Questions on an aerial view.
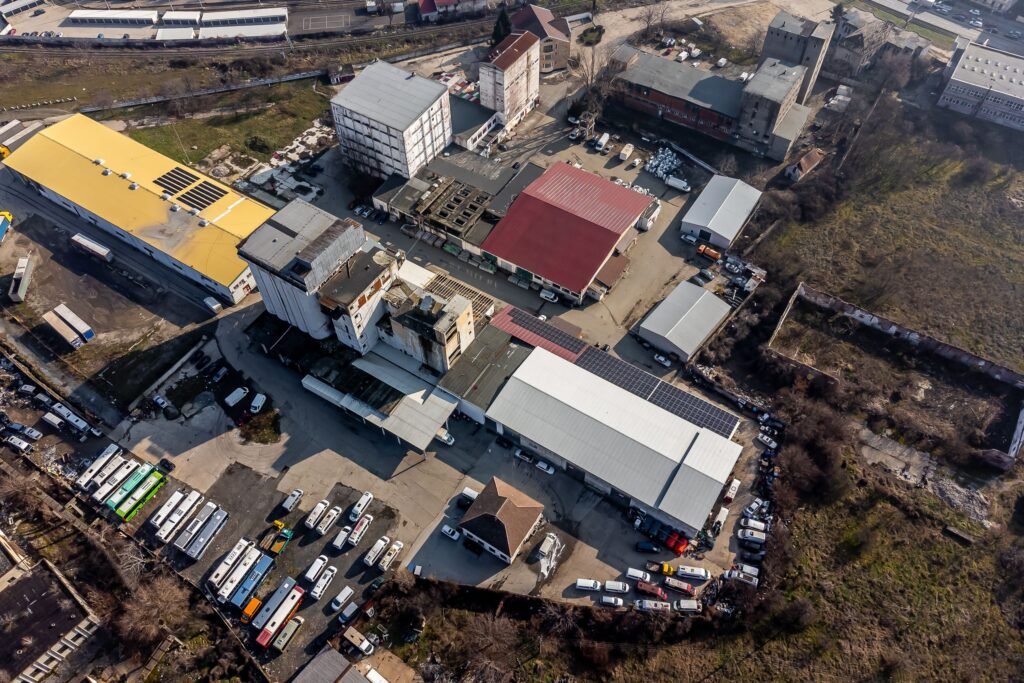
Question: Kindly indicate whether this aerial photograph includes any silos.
Yes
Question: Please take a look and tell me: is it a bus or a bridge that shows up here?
bus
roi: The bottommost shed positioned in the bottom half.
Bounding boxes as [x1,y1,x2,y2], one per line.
[296,645,372,683]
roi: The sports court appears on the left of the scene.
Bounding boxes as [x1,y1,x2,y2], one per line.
[290,3,424,34]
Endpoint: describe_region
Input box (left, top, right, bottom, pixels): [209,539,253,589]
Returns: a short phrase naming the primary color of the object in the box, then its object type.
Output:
white bus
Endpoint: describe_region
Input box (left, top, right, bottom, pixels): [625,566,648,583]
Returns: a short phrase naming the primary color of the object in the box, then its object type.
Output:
white vehicle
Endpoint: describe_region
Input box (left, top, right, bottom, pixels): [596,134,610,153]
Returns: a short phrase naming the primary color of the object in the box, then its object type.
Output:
white vehicle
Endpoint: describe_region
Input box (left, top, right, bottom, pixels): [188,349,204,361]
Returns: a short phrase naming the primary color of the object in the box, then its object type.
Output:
black vehicle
